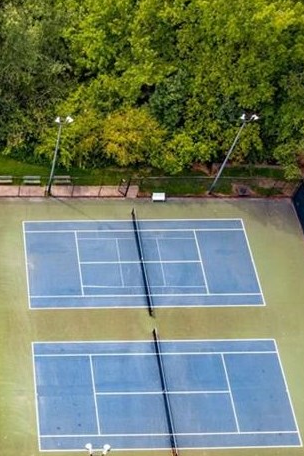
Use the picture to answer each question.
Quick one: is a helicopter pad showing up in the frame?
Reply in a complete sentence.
No, this view has no helicopter pad in it.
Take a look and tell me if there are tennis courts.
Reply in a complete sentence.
Yes, a tennis court is visible in the scene.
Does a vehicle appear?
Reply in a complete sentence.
No, no vehicle is visible in the scene.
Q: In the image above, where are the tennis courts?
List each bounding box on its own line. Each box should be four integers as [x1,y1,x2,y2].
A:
[22,218,264,308]
[32,340,301,450]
